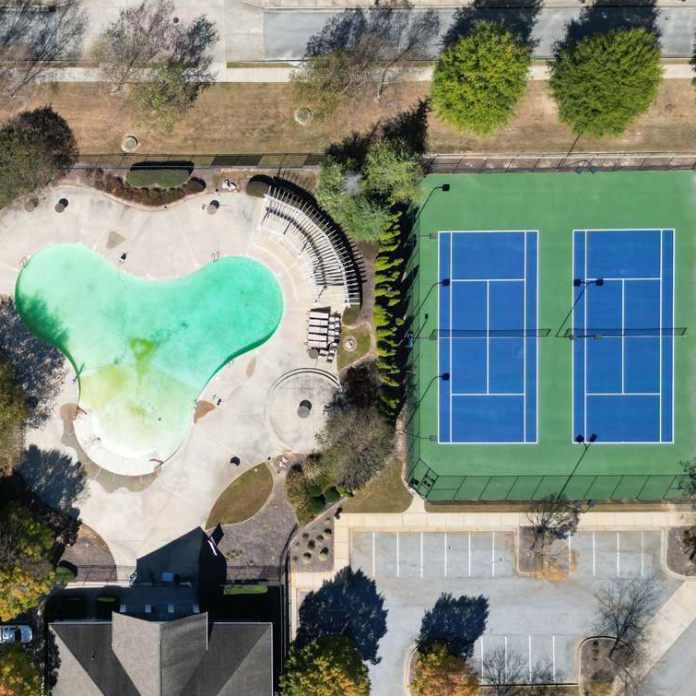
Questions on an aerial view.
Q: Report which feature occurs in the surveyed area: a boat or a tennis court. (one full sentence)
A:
There is a tennis court in the scene.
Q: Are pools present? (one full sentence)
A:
Yes, a pool appears in the view.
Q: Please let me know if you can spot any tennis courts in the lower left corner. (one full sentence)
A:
No, I see no tennis court in the lower left corner.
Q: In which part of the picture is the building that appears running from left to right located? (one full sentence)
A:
The building that appears running from left to right is located in the bottom left region of the scene.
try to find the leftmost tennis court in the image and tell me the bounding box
[410,173,556,500]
